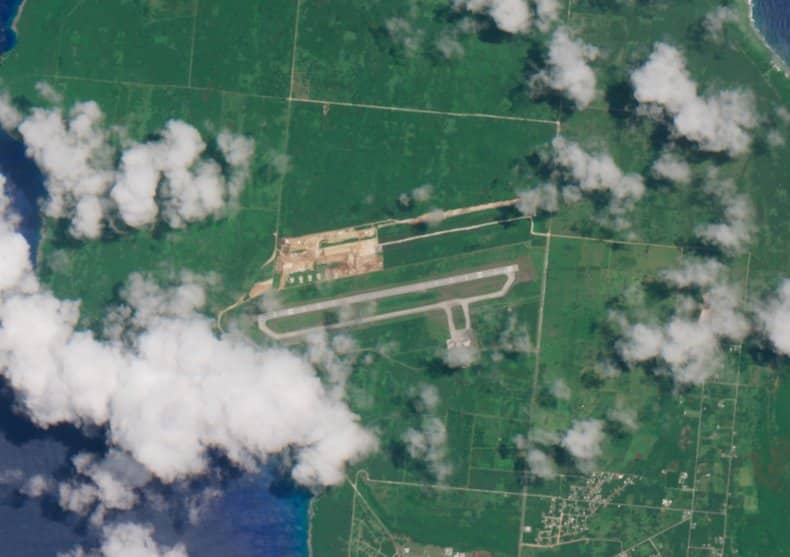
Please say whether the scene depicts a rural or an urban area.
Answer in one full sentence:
The area is rural.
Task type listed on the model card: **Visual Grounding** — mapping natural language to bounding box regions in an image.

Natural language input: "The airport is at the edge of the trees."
[260,254,535,352]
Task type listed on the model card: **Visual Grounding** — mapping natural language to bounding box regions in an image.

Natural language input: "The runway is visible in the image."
[261,265,519,320]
